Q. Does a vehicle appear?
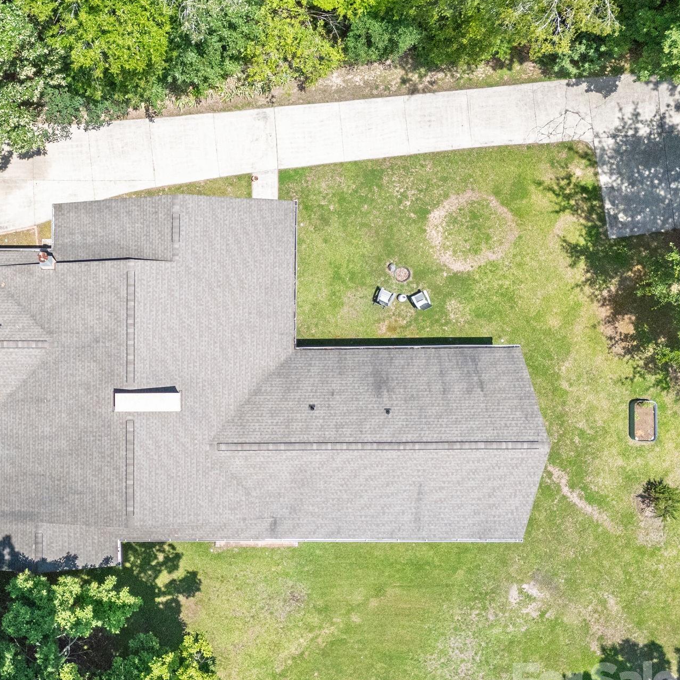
No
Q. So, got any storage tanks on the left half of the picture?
No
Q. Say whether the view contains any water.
No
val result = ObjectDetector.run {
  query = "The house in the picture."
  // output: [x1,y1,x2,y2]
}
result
[0,190,553,571]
